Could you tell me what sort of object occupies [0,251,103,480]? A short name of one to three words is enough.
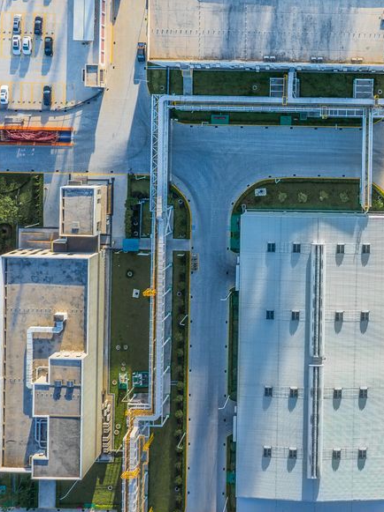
building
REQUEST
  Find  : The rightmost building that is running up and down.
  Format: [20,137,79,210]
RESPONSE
[237,209,384,506]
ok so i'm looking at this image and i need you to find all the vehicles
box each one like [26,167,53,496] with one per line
[11,35,22,55]
[43,86,52,106]
[12,15,23,34]
[22,36,32,56]
[33,17,44,36]
[137,41,146,62]
[44,36,54,56]
[0,85,9,105]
